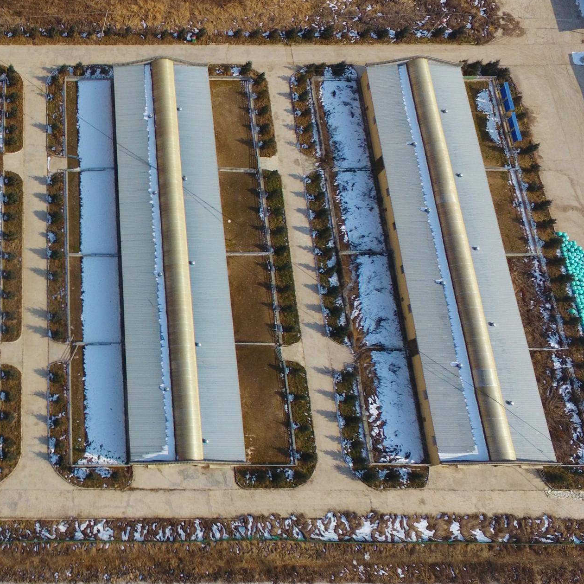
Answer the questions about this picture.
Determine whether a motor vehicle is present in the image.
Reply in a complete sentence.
No, no motor vehicle is visible in the view.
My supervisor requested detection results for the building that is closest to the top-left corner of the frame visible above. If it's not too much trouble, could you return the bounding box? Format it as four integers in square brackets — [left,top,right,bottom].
[109,54,249,466]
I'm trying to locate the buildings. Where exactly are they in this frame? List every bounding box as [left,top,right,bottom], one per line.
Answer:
[357,54,561,466]
[109,54,249,466]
